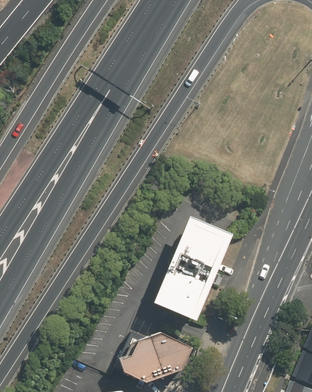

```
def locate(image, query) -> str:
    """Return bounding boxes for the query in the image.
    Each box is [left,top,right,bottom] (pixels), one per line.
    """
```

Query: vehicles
[184,68,199,86]
[11,124,24,138]
[137,379,144,392]
[72,362,86,372]
[259,264,270,280]
[220,266,234,276]
[148,380,161,392]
